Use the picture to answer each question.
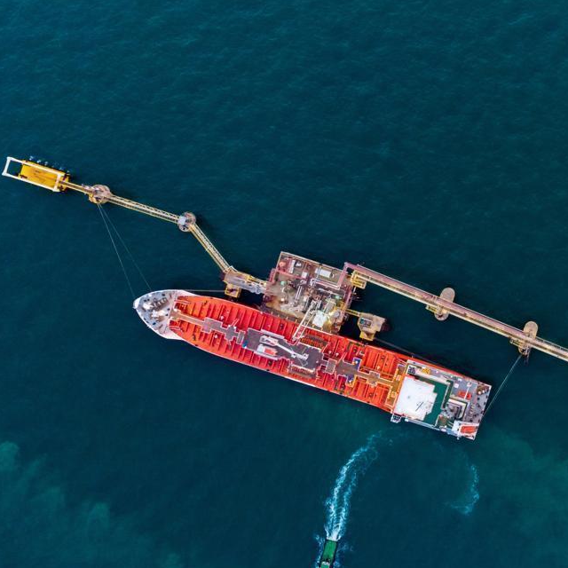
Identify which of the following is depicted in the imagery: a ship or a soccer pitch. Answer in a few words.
ship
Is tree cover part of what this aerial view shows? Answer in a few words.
No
